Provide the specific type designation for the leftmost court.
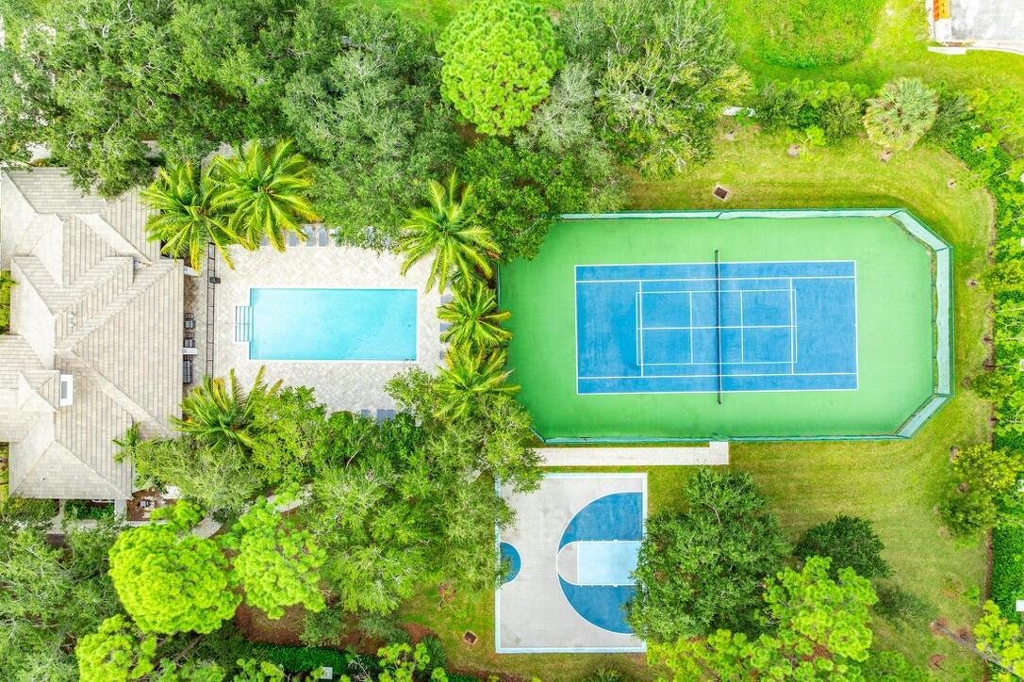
basketball court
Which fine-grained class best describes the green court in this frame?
tennis court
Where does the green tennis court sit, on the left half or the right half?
right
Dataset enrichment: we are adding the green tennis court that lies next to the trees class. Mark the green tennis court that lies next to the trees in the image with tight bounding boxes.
[499,217,931,437]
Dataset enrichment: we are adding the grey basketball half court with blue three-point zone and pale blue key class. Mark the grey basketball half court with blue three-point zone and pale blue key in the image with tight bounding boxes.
[496,473,647,654]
